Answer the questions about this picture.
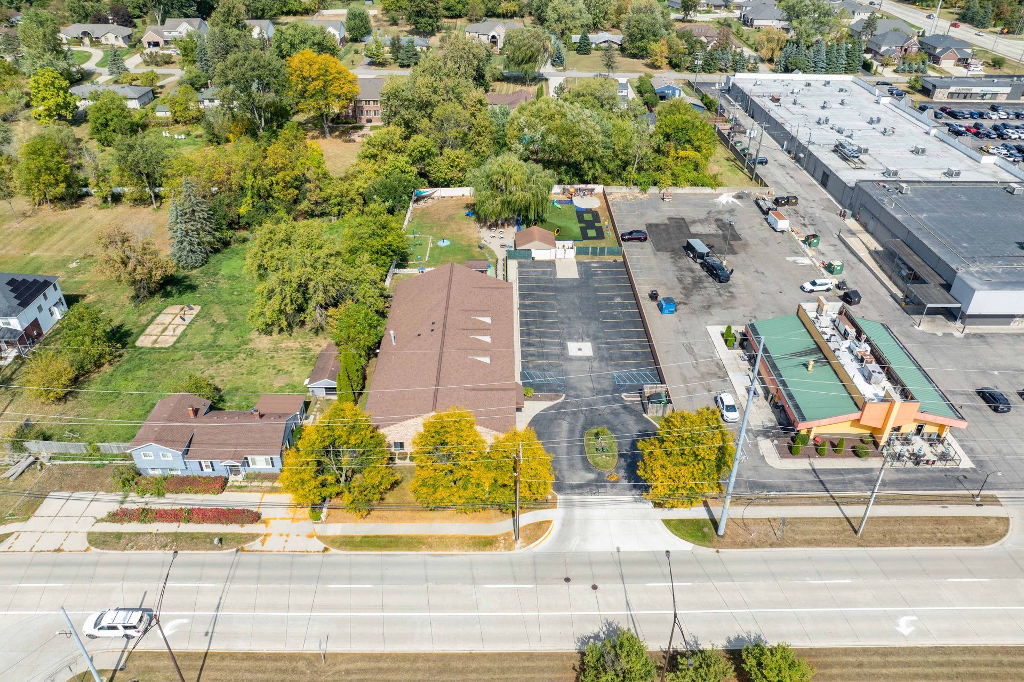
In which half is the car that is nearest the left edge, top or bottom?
bottom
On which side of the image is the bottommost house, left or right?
left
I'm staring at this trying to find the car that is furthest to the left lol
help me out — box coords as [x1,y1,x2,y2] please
[84,611,150,642]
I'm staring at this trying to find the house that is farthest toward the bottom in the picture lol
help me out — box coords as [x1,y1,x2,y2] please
[127,382,305,481]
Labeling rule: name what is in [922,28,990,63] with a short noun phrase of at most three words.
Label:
house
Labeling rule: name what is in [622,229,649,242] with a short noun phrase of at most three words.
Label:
vehicle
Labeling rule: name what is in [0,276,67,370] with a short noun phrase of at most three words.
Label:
house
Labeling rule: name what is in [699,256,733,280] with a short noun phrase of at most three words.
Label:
truck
